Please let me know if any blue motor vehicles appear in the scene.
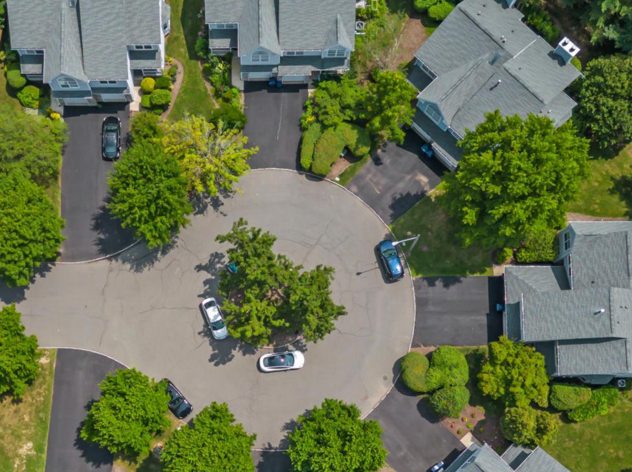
Yes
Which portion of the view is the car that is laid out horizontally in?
bottom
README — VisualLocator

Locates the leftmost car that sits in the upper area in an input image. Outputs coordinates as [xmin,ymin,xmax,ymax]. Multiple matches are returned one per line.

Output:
[101,117,120,159]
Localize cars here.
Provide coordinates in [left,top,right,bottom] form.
[101,117,120,159]
[259,351,305,372]
[160,377,196,419]
[377,241,405,281]
[200,296,227,340]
